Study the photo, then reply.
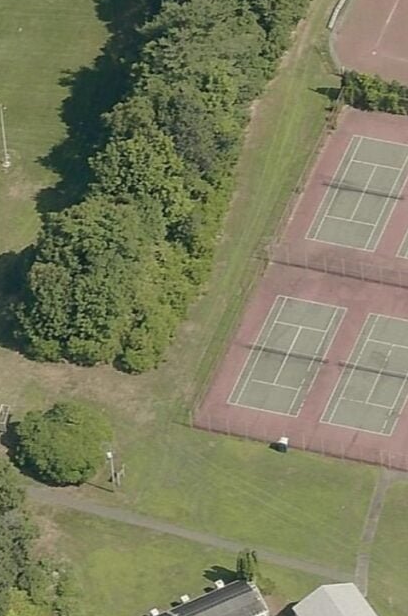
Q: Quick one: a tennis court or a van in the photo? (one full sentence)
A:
The one in the frame is a tennis court.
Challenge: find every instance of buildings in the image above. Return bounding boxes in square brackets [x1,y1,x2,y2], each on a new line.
[160,579,265,616]
[292,582,377,616]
